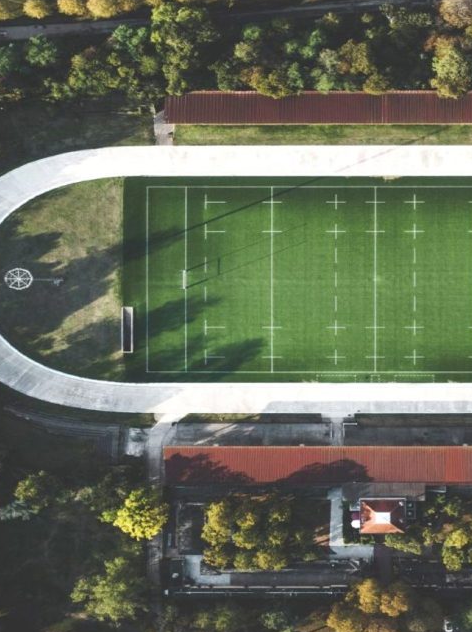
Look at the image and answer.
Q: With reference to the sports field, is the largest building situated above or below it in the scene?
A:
below it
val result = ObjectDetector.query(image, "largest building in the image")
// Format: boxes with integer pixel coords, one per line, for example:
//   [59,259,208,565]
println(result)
[342,485,425,534]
